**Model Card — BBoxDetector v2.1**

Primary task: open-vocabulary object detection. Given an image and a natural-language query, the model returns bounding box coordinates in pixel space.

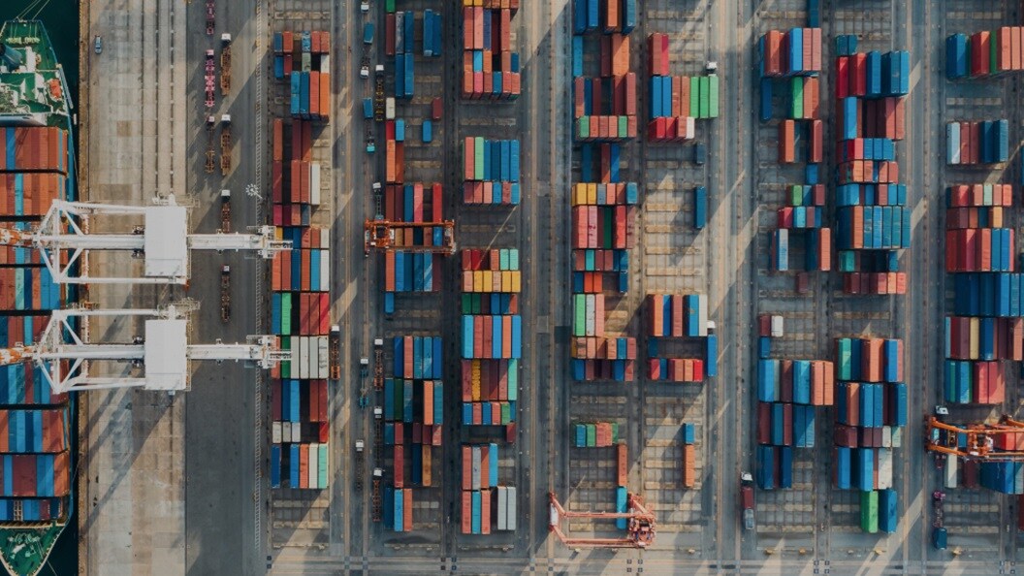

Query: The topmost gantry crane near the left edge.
[0,185,293,293]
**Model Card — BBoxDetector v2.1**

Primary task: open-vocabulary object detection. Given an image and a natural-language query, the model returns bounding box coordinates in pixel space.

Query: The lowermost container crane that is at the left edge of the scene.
[0,294,293,396]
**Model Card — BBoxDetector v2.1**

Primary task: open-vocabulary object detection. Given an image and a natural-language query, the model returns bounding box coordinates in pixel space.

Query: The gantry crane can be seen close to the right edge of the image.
[928,412,1024,460]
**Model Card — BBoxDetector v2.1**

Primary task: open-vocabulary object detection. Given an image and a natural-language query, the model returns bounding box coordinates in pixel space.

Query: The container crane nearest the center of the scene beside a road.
[364,219,456,257]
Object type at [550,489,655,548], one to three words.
container crane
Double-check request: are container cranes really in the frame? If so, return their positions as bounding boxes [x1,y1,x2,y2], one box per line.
[550,489,655,548]
[928,412,1024,460]
[0,294,293,396]
[364,219,456,257]
[0,185,293,293]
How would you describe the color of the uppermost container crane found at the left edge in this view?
white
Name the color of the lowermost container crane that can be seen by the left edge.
white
